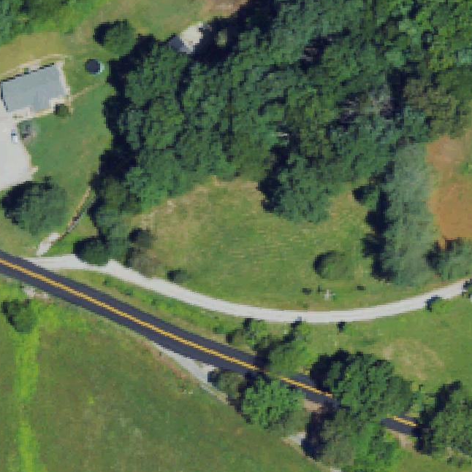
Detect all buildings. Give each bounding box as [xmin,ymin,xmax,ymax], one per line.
[0,64,67,112]
[169,35,189,57]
